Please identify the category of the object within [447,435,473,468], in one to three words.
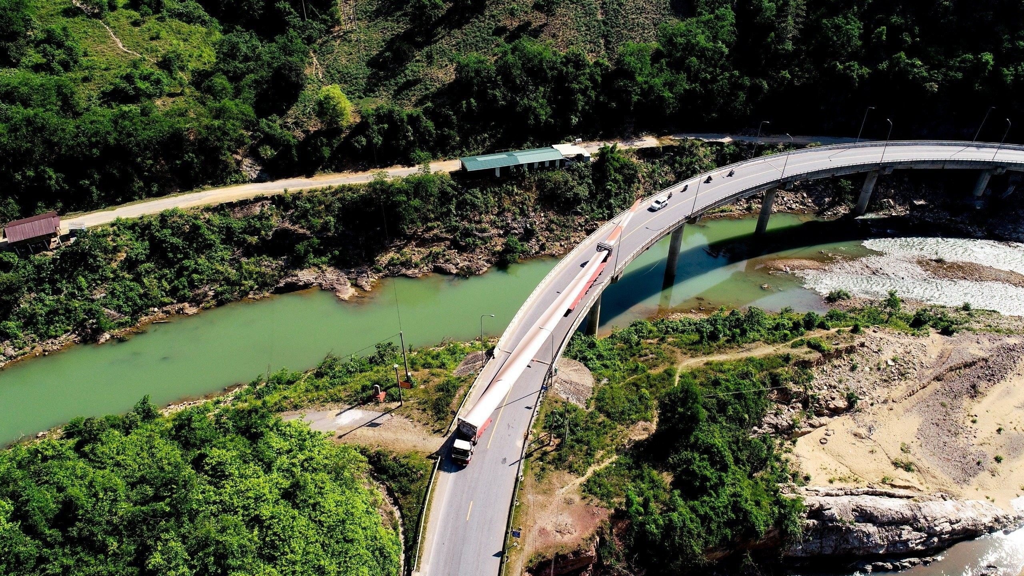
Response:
truck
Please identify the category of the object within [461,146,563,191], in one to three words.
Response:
house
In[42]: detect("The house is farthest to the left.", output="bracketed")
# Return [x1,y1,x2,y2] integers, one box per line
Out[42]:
[1,219,69,262]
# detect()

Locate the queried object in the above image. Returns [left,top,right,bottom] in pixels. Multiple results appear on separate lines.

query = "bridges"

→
[491,141,1024,384]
